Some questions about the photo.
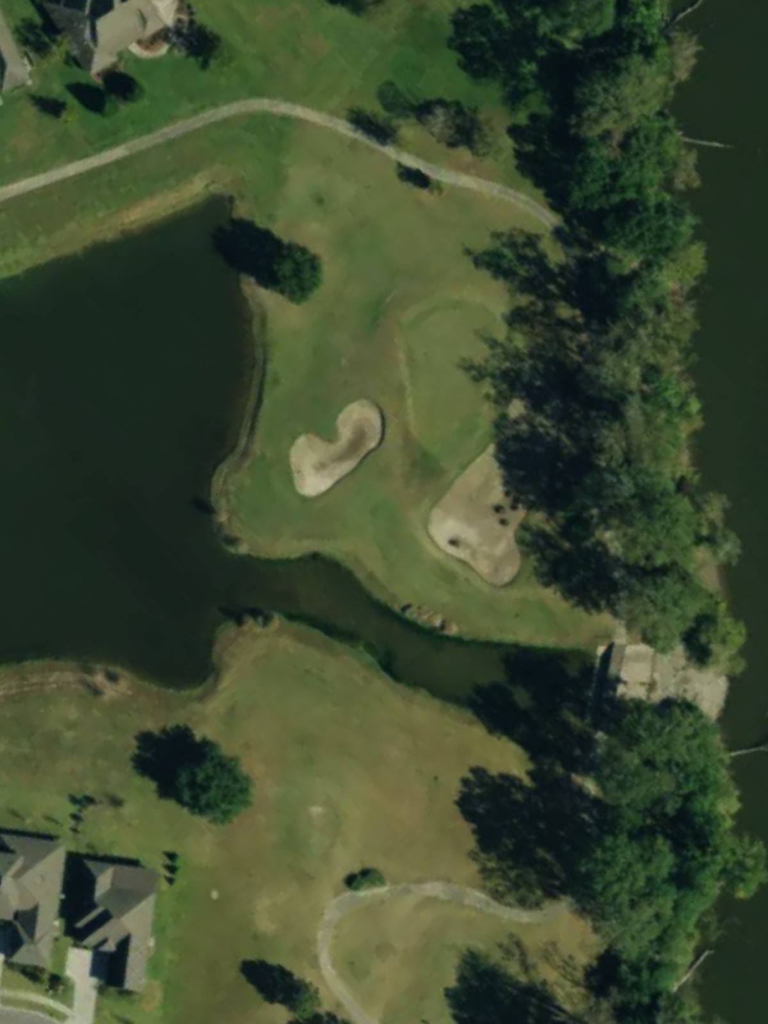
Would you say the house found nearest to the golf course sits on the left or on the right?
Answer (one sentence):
The house found nearest to the golf course is on the left side of the image.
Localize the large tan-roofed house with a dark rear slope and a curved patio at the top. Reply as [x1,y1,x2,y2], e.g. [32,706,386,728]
[43,0,178,80]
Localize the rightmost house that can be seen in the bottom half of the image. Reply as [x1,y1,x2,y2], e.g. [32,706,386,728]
[73,861,160,992]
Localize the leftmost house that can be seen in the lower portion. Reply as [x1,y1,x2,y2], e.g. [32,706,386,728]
[0,836,65,965]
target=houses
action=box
[0,836,65,965]
[0,10,29,91]
[43,0,178,80]
[73,861,160,992]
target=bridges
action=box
[602,641,626,716]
